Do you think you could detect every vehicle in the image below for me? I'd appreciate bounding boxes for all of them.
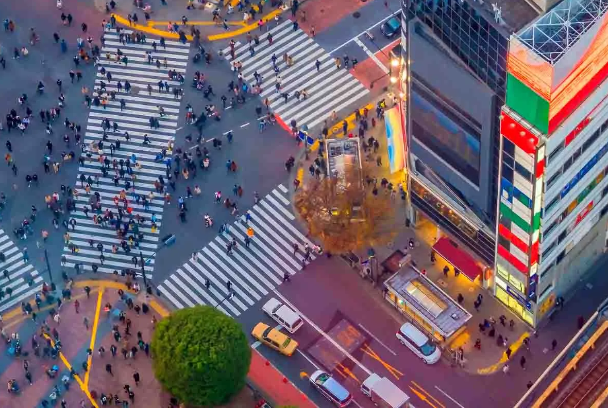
[308,371,352,408]
[372,11,405,43]
[395,321,439,364]
[252,321,298,360]
[261,298,305,337]
[358,366,413,408]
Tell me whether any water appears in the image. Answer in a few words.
No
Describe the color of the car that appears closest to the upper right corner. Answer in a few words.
blue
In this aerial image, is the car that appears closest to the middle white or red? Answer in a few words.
white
